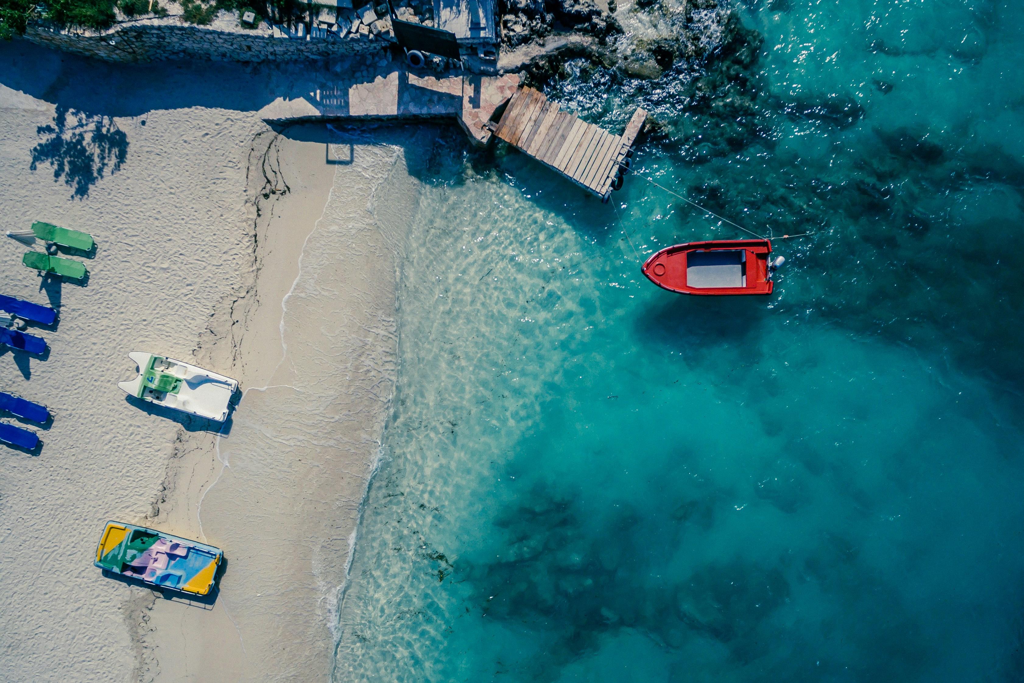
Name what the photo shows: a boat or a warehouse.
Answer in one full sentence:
It is a boat that can be seen here.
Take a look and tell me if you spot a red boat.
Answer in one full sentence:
Yes, there is a red boat in the image.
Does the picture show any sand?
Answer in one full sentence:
Yes, sand shows up in the scene.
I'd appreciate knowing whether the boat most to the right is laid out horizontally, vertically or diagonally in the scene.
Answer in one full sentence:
Seen from above, the boat most to the right lies horizontally.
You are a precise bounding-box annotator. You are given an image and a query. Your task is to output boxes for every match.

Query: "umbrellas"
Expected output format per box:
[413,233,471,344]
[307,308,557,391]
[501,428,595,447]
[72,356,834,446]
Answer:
[6,231,59,257]
[0,310,25,330]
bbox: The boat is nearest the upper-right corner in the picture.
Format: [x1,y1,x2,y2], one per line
[640,239,784,296]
